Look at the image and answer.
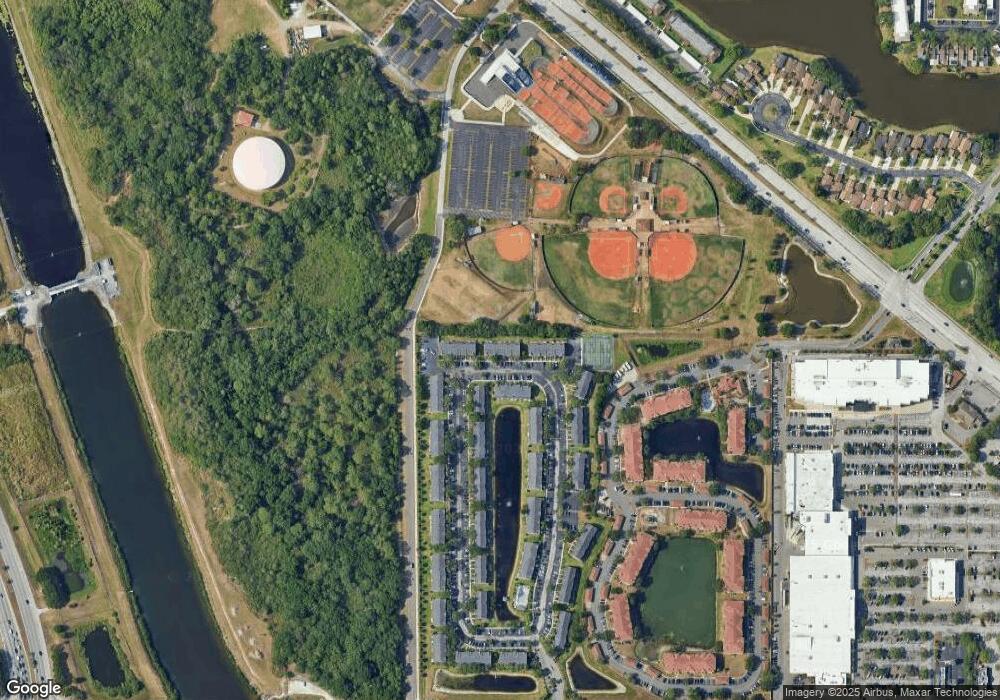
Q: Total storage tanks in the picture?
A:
1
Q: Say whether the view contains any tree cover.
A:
Yes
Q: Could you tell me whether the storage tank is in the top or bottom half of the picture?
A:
top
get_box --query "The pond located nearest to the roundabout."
[781,243,856,325]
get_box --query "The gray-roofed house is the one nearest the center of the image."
[484,343,521,357]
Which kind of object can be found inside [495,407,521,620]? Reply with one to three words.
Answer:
pond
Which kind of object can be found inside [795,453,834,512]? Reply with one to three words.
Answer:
building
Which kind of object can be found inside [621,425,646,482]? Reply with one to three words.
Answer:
house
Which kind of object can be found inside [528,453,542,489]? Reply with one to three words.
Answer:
house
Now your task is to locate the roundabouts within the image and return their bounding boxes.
[752,93,791,132]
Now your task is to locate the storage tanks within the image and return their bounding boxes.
[231,137,285,189]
